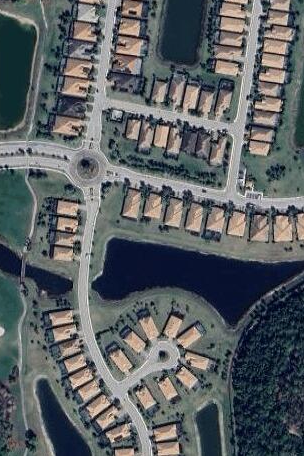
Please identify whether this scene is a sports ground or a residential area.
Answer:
residential area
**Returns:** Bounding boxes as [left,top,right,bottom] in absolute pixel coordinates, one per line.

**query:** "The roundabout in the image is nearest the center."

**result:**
[67,147,108,187]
